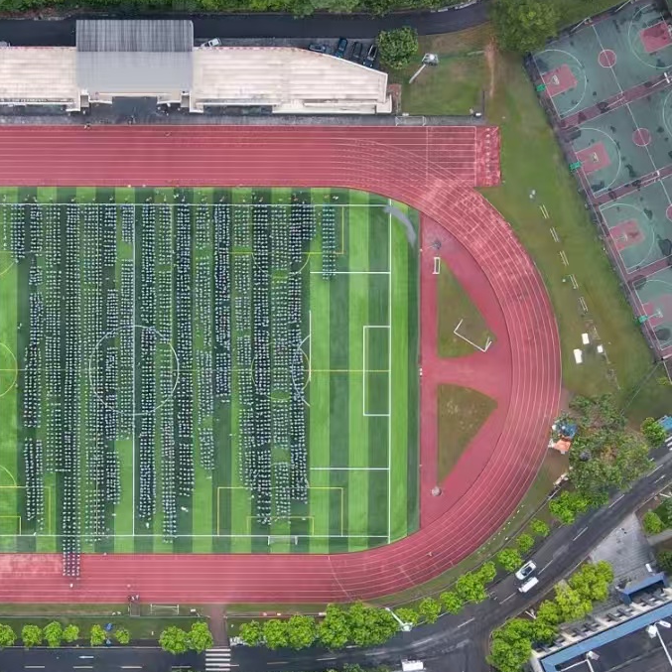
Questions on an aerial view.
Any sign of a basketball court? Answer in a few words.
Yes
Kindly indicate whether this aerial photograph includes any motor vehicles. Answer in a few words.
Yes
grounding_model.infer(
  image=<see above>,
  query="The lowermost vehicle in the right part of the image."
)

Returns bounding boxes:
[398,656,424,670]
